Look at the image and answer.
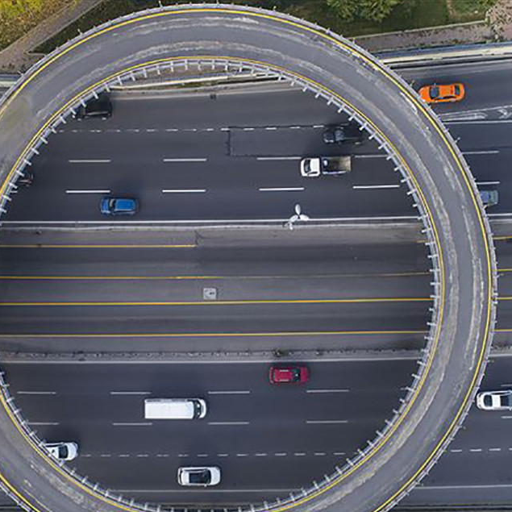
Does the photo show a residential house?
No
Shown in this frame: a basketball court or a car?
car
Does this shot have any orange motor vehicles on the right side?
Yes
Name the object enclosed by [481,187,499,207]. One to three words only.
car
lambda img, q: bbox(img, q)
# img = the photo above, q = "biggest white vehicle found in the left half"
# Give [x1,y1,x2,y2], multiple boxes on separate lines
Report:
[144,397,207,421]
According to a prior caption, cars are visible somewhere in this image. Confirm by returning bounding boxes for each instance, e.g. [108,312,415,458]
[177,465,220,489]
[323,122,366,146]
[100,196,138,218]
[418,83,465,105]
[73,98,112,118]
[269,363,308,385]
[46,440,79,461]
[13,166,33,186]
[481,187,499,207]
[475,388,512,411]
